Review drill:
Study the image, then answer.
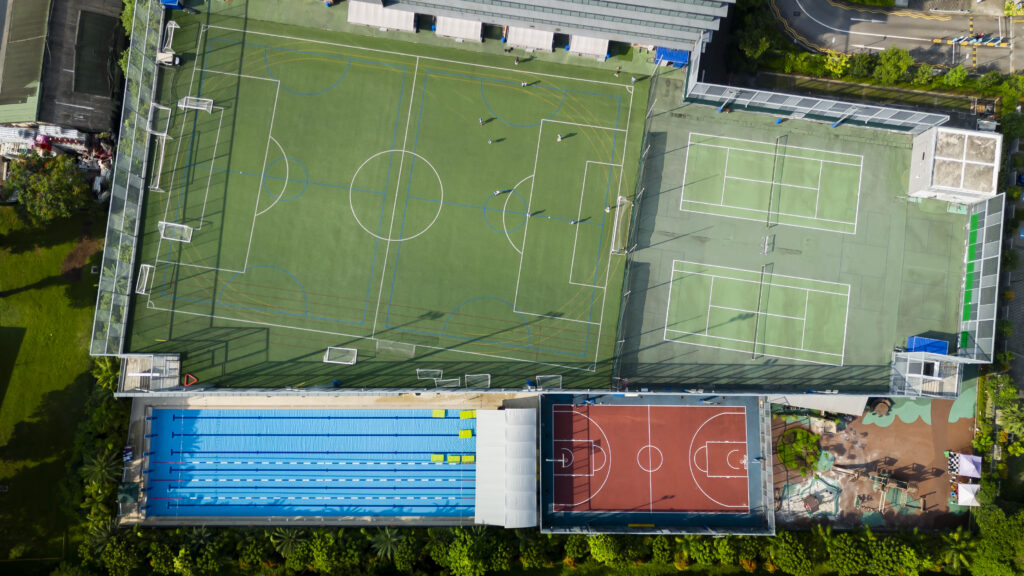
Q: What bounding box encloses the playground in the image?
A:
[772,378,977,529]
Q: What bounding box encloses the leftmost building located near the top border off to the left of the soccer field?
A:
[0,0,56,132]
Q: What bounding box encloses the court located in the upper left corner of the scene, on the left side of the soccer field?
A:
[56,10,118,110]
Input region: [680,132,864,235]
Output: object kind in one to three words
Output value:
tennis court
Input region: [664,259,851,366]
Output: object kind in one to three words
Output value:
tennis court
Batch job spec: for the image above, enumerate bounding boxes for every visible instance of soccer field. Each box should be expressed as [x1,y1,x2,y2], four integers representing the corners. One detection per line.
[122,0,651,392]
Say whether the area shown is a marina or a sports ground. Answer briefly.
sports ground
